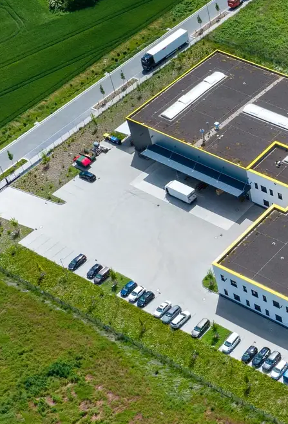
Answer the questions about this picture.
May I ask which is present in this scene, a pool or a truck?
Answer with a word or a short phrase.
truck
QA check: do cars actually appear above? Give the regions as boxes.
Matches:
[221,332,242,354]
[79,171,98,183]
[85,263,105,281]
[118,280,140,299]
[160,304,182,324]
[67,254,87,271]
[241,346,259,364]
[190,317,211,338]
[135,289,156,309]
[271,362,288,380]
[127,285,146,303]
[281,370,288,384]
[262,350,282,373]
[251,346,272,369]
[169,311,190,329]
[152,300,174,319]
[92,266,113,285]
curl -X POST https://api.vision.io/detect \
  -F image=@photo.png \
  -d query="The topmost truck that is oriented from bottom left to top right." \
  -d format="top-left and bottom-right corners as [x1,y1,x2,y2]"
[142,28,189,72]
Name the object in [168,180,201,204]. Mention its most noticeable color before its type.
white vehicle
